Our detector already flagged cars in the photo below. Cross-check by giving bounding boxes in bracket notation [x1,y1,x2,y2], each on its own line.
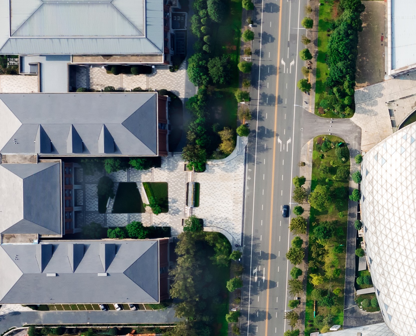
[98,304,108,314]
[113,304,122,314]
[128,304,138,314]
[283,205,289,217]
